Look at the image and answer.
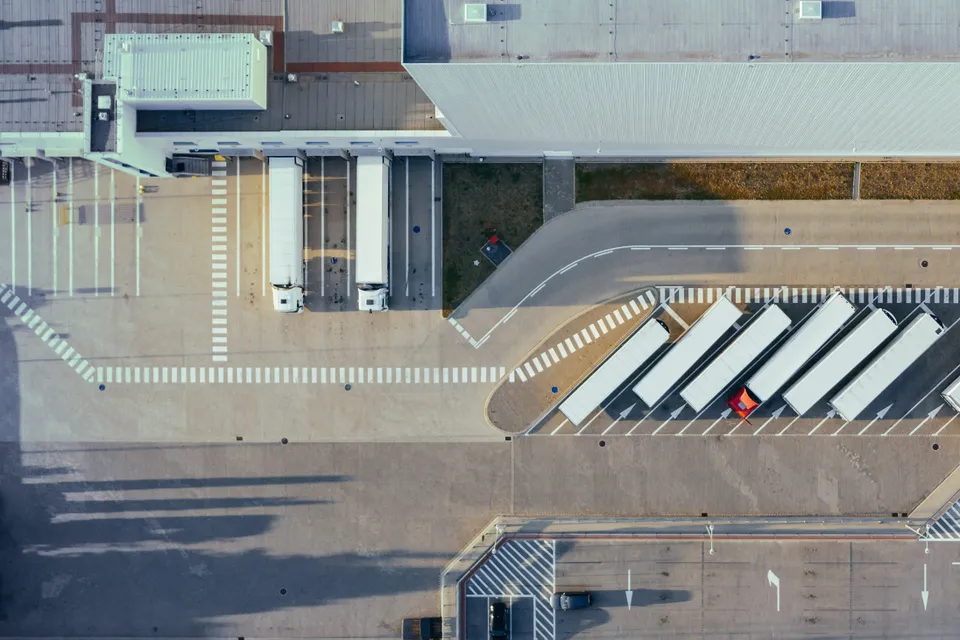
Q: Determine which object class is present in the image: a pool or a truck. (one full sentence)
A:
The one in the frame is a truck.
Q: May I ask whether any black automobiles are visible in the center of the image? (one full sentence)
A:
No, I can find no black automobile in the center of the image.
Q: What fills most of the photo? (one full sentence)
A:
The largest share of the image is taken up by paved ground.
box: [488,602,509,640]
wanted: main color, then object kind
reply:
black car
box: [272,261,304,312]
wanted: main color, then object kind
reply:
white truck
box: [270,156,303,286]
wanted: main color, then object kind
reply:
white trailer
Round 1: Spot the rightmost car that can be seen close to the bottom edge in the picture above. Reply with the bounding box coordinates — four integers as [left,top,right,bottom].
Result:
[551,590,592,611]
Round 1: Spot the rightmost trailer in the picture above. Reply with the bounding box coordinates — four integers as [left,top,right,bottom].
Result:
[934,370,960,413]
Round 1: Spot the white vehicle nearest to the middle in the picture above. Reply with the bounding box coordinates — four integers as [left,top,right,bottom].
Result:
[357,285,389,311]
